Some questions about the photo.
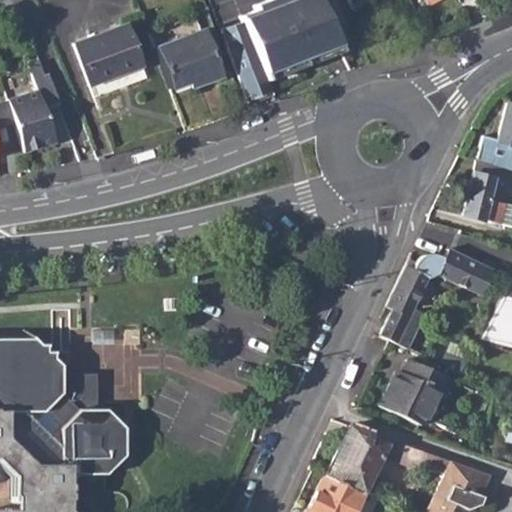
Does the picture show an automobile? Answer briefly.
Yes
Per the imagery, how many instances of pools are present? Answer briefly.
0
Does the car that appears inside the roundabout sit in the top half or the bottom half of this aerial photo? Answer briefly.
top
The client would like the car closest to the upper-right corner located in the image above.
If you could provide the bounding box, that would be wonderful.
[458,52,482,67]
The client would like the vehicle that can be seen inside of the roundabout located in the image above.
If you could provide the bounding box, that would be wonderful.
[408,140,430,161]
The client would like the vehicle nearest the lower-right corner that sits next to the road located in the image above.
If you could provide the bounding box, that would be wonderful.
[340,359,360,388]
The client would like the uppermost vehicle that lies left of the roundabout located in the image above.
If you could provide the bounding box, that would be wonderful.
[242,116,264,130]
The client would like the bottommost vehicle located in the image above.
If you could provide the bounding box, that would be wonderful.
[244,478,258,500]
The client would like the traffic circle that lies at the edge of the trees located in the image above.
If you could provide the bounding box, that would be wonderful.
[317,80,444,206]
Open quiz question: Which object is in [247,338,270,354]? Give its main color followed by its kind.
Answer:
white car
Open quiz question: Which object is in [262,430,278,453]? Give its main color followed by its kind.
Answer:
blue car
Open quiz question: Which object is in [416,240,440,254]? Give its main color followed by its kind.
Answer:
white car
